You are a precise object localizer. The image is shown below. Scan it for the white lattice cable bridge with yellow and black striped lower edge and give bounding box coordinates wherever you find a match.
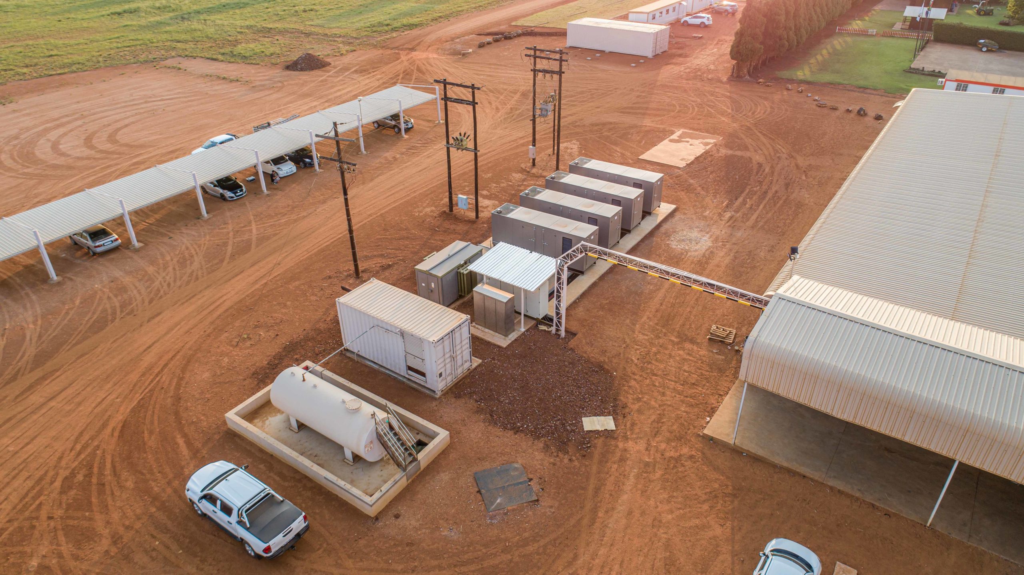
[552,239,767,337]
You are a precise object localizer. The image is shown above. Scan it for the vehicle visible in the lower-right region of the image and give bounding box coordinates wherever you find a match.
[751,538,822,575]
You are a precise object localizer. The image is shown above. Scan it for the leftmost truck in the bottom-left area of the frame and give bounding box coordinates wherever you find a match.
[184,464,315,566]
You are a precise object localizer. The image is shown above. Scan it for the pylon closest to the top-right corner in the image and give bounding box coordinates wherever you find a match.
[519,46,569,170]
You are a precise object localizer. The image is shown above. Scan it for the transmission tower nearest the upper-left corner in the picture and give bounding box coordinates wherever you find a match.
[424,77,489,219]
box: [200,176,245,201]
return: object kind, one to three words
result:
car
